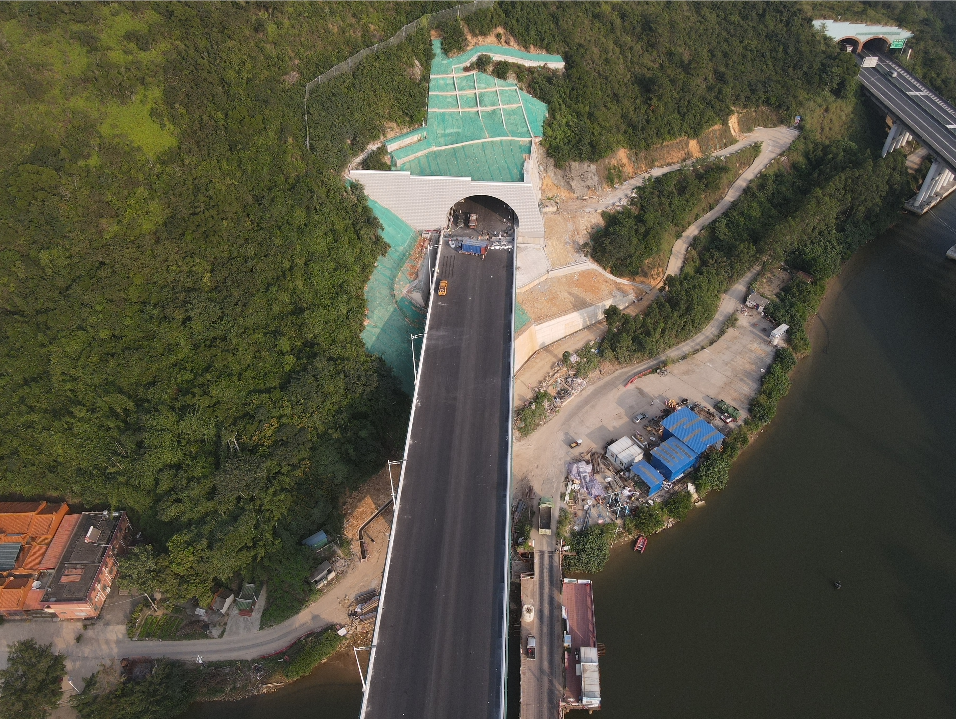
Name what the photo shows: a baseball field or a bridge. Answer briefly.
bridge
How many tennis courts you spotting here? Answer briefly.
none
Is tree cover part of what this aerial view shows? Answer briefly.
Yes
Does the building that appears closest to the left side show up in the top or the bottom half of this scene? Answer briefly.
bottom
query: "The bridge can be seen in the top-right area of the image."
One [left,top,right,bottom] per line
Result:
[829,39,956,214]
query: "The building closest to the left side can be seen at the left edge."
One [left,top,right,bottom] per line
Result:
[0,501,80,619]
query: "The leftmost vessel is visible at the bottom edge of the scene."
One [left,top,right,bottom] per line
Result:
[562,582,605,719]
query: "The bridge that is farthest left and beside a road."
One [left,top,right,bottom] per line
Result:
[360,197,513,719]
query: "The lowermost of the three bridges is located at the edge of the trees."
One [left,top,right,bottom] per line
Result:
[518,544,563,719]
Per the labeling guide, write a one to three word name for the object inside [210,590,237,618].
shed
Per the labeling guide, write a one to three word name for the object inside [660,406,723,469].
shed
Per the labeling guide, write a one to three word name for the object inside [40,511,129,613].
building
